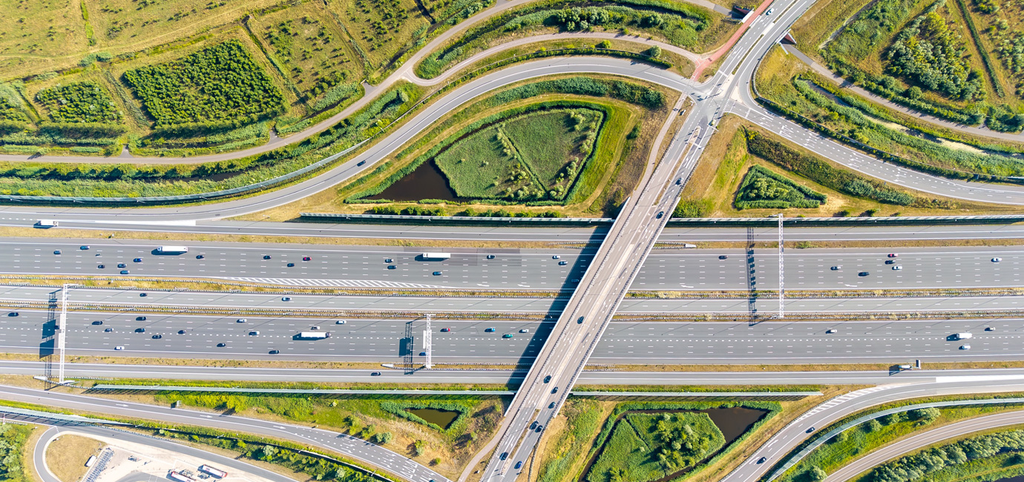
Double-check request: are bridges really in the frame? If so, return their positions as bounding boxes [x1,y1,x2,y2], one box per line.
[505,194,682,422]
